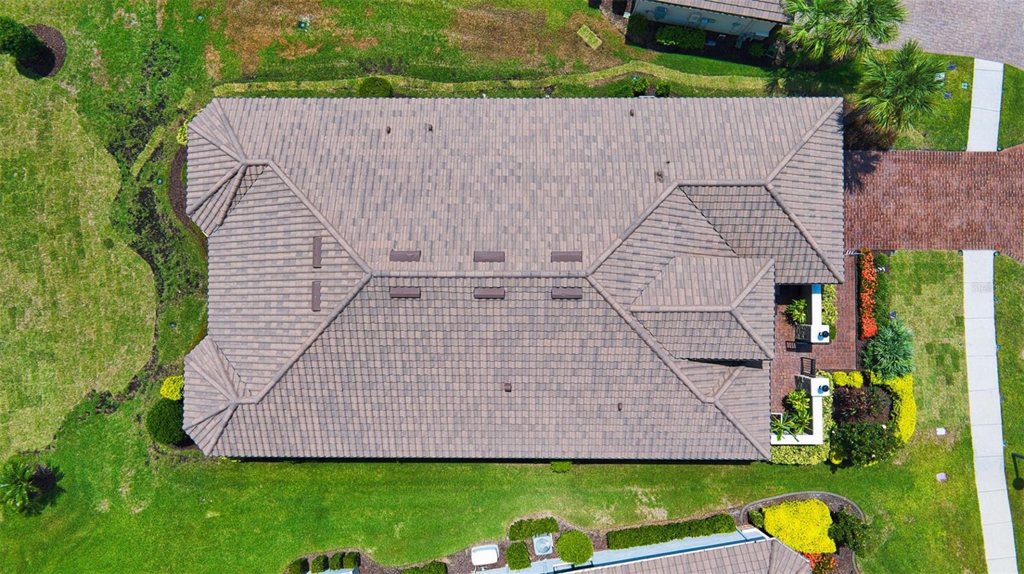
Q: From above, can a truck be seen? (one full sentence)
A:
No, the scene contains no truck.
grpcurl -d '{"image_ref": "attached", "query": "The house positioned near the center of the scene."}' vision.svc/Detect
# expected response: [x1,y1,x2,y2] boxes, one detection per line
[180,95,847,461]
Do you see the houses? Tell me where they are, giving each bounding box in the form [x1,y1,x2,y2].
[630,0,799,41]
[180,95,847,461]
[466,523,814,574]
